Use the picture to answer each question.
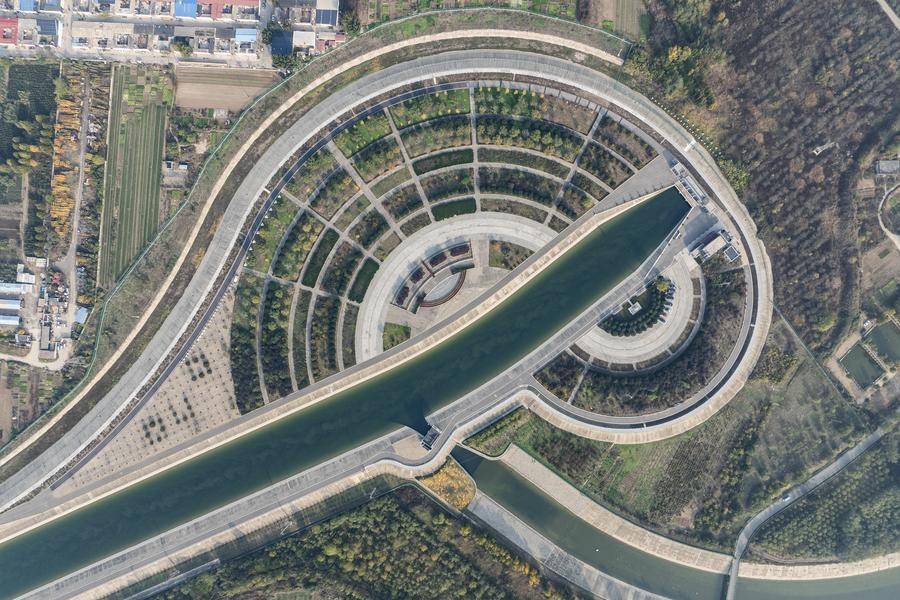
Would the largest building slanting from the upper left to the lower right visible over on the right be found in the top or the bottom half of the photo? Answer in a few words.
top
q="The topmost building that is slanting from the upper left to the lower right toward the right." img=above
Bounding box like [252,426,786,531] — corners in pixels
[670,163,712,214]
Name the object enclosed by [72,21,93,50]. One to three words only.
house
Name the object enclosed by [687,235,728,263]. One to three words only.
building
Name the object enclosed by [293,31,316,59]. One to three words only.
house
